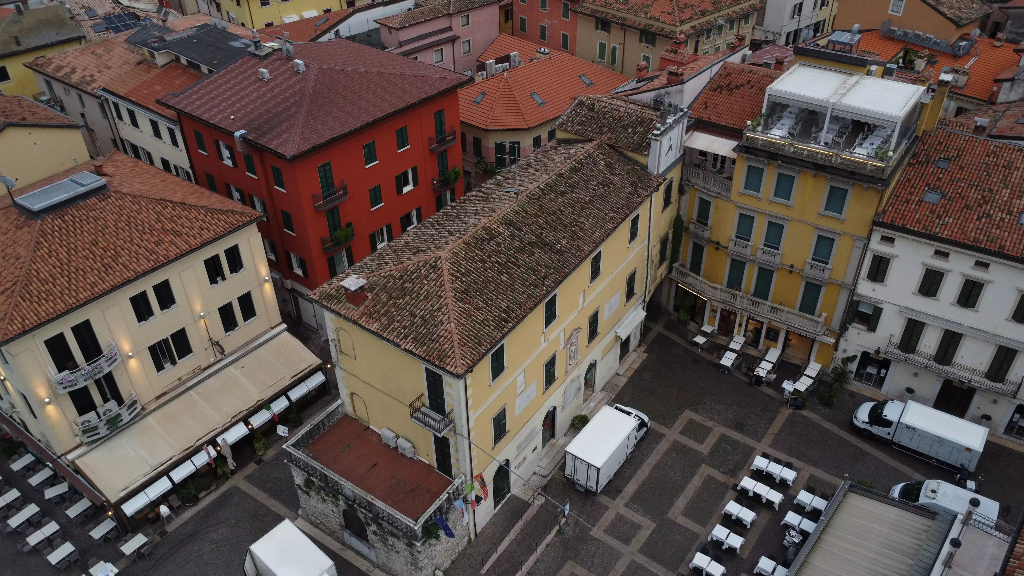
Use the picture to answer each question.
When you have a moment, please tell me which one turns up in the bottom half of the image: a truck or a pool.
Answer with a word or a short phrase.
truck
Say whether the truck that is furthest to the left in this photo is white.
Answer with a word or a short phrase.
Yes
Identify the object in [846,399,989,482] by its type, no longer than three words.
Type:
truck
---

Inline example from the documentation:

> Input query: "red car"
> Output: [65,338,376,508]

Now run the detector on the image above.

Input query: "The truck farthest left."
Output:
[239,519,338,576]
